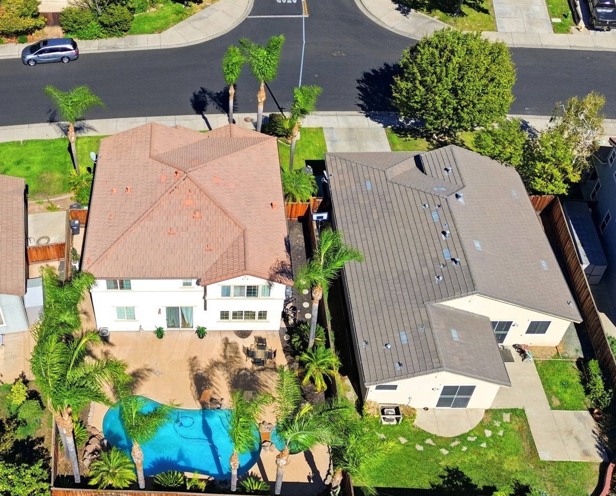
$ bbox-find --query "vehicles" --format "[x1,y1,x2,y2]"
[586,0,616,26]
[21,38,79,69]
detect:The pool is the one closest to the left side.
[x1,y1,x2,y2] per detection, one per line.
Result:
[98,391,265,484]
